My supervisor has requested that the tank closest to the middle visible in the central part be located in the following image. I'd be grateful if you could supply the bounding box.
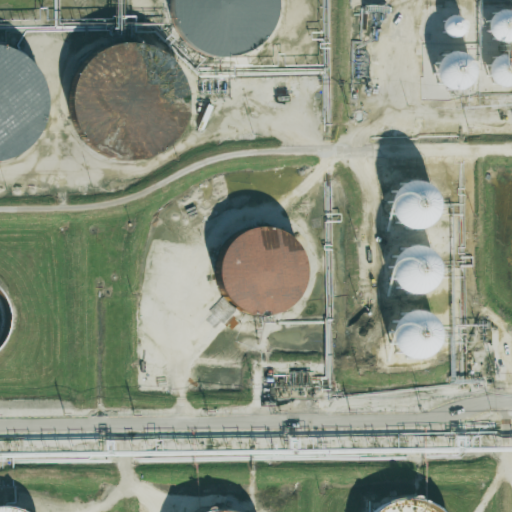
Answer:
[216,226,310,318]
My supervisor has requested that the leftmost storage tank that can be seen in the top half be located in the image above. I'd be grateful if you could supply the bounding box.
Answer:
[0,44,46,158]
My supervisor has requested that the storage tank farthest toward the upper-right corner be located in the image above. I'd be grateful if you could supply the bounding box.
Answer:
[484,10,512,46]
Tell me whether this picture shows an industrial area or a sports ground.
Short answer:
industrial area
